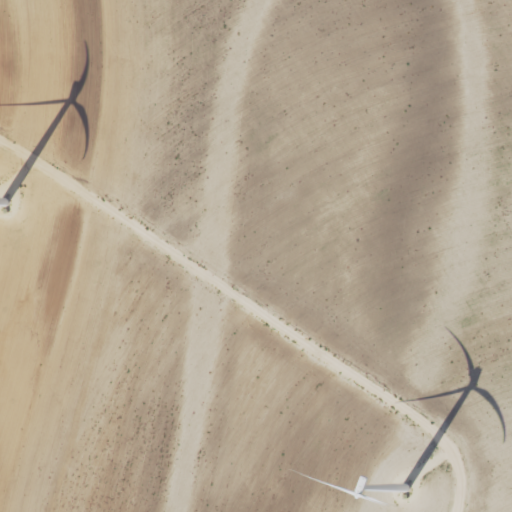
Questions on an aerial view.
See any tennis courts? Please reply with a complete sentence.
No, the scene contains no tennis court.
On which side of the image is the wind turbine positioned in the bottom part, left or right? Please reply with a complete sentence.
You can find the wind turbine positioned in the bottom part on the right side of the picture.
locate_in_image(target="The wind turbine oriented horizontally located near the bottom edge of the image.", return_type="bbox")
[294,474,412,512]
